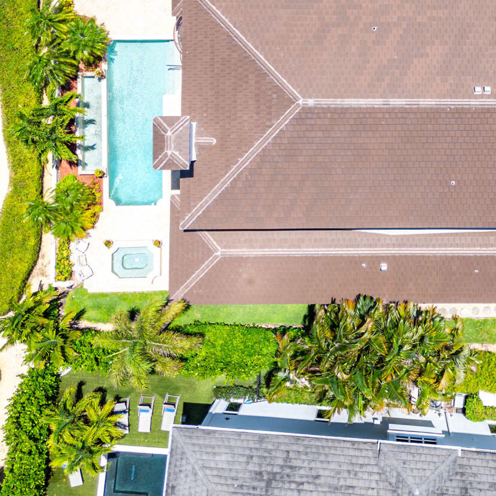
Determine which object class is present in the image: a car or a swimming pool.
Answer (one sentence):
Visible in the photo is a swimming pool.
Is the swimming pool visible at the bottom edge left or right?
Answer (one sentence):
You can find the swimming pool visible at the bottom edge on the left side of the picture.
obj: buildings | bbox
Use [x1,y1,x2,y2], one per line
[151,0,496,306]
[164,399,496,496]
